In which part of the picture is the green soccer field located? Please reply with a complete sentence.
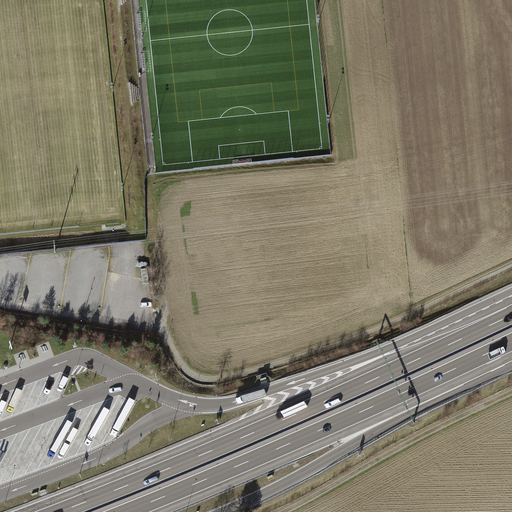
The green soccer field is in the top part of the image.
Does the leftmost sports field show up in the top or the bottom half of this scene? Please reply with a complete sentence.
Seen from above, the leftmost sports field lies in the top half of the view.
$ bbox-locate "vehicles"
[324,398,341,408]
[57,427,78,460]
[108,398,134,438]
[42,382,54,396]
[488,346,506,358]
[406,388,417,396]
[6,388,22,412]
[322,424,332,432]
[83,407,109,446]
[234,389,266,406]
[46,420,72,458]
[56,376,69,392]
[432,374,444,382]
[143,474,158,484]
[140,302,152,307]
[504,314,512,321]
[109,386,122,392]
[275,400,307,420]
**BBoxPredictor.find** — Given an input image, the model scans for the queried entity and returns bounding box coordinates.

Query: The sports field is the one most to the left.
[0,0,126,235]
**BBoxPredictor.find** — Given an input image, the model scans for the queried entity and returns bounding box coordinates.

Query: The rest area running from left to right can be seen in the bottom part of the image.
[0,342,304,502]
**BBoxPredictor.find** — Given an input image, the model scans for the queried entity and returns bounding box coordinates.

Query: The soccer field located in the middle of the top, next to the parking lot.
[138,0,330,170]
